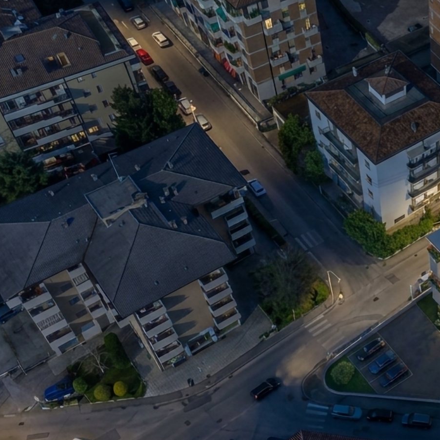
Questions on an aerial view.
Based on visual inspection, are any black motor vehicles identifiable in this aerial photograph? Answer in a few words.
Yes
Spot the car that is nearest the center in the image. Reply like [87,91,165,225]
[248,178,265,198]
